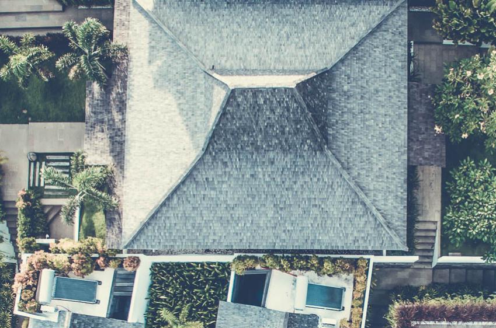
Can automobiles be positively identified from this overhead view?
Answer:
No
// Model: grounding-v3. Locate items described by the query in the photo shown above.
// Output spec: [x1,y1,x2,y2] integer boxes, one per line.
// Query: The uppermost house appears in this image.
[85,0,446,269]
